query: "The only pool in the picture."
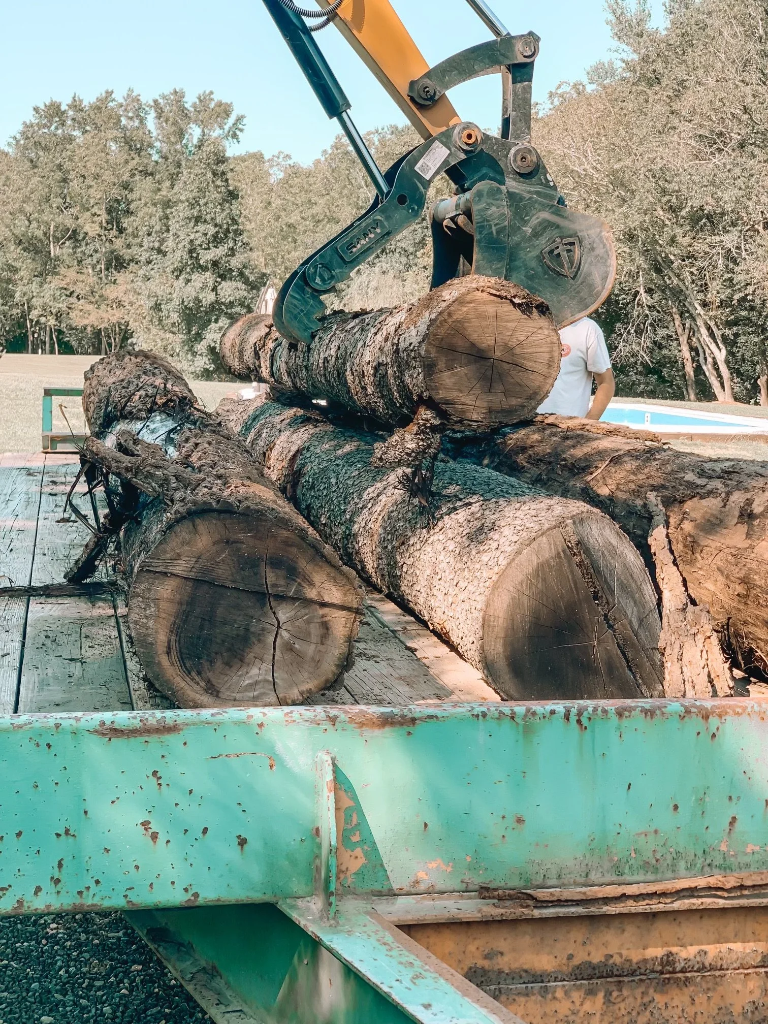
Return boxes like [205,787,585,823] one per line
[586,404,768,441]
